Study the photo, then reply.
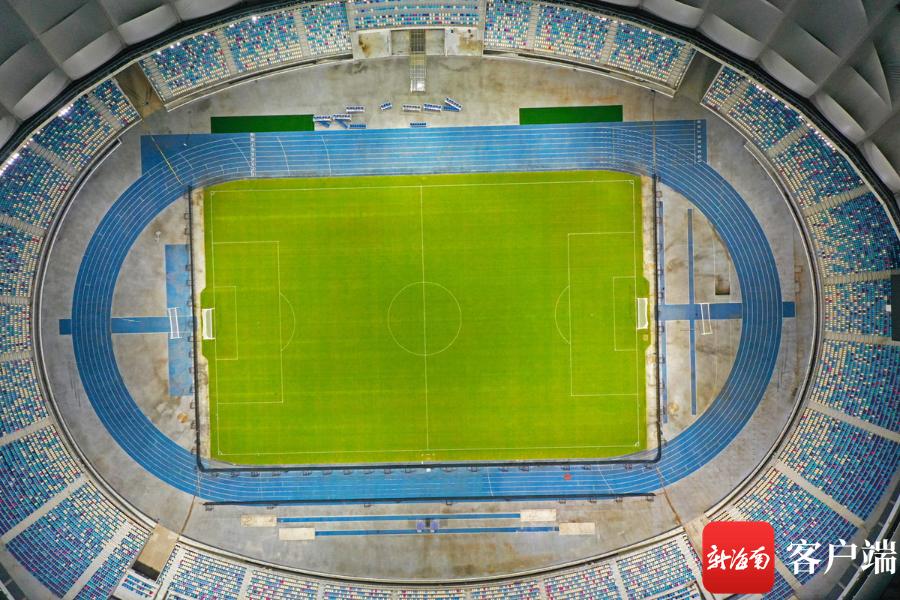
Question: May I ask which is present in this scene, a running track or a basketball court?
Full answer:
Looking from above, you can make out a running track.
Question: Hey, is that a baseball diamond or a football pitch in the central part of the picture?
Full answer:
What appears in the central part of the picture is a football pitch.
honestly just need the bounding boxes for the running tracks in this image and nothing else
[69,119,782,510]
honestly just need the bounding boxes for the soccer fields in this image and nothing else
[191,169,660,467]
